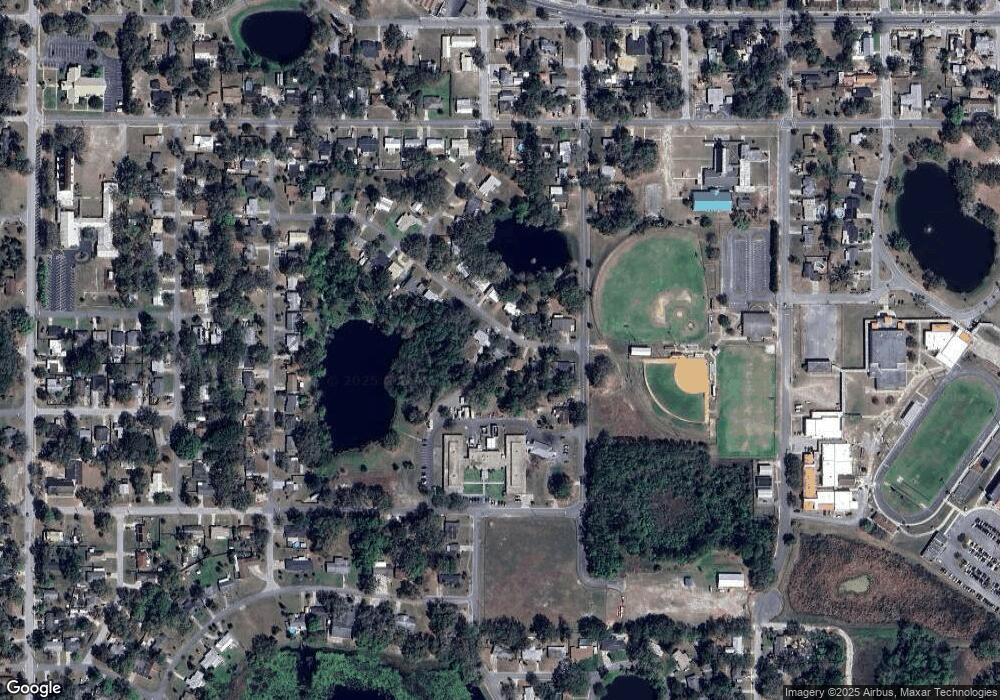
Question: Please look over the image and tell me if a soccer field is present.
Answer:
Yes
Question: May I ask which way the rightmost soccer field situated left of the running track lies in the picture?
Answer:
up and down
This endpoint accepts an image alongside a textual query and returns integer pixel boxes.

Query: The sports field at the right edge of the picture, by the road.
[880,377,997,517]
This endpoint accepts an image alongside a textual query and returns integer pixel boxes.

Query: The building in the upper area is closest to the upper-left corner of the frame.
[60,64,105,103]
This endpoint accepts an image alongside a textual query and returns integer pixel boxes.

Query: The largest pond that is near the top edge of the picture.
[240,11,312,65]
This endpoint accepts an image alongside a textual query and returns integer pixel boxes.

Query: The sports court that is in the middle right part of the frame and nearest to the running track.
[804,306,837,361]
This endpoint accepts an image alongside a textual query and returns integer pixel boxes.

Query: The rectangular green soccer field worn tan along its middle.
[718,345,776,459]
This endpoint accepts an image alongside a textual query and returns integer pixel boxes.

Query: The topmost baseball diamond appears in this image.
[594,229,704,346]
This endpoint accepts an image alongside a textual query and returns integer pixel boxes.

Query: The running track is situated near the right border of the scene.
[871,369,1000,525]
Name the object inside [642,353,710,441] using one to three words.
baseball field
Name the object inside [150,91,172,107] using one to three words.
house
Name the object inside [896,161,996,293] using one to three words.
pond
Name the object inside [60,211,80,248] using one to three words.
building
